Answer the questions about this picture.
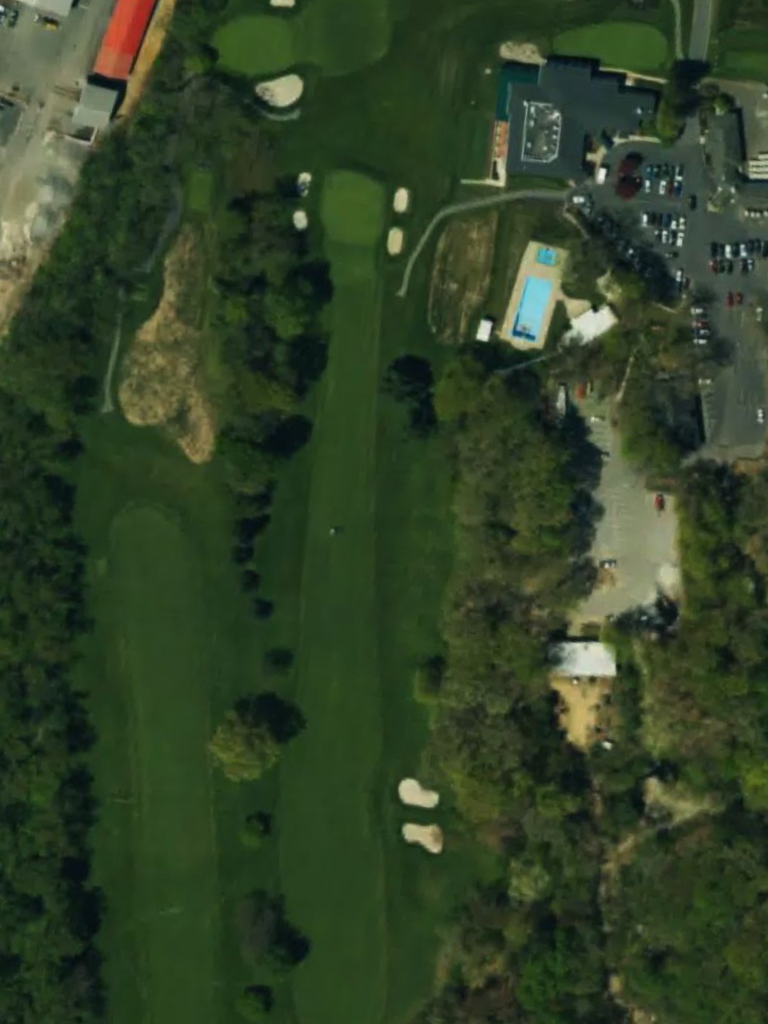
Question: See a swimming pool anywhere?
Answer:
Yes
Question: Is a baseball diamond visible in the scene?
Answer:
No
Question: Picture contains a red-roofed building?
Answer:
Yes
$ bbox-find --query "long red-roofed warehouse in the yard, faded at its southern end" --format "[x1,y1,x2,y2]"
[93,0,156,81]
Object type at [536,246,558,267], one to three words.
swimming pool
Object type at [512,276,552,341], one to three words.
swimming pool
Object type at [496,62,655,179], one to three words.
building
